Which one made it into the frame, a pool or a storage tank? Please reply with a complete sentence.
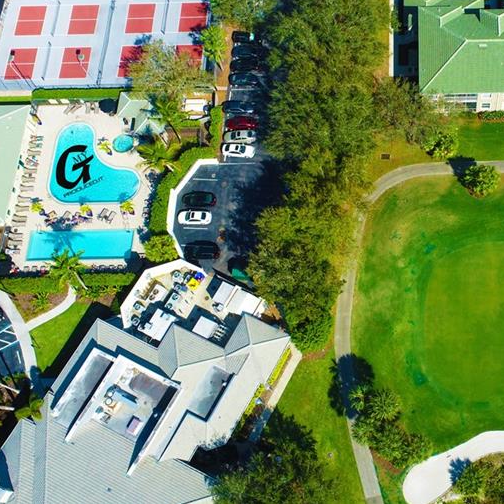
Looking from above, you can make out a pool.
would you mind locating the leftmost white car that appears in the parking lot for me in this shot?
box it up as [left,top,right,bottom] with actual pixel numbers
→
[178,209,210,224]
